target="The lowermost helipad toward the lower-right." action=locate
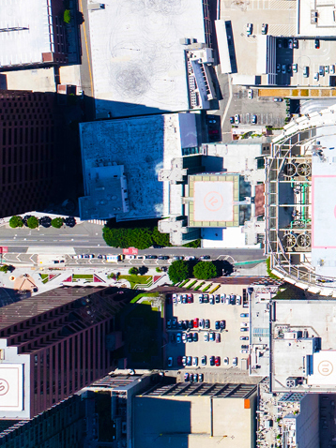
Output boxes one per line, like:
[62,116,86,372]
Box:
[306,349,336,384]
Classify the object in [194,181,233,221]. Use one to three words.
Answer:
helipad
